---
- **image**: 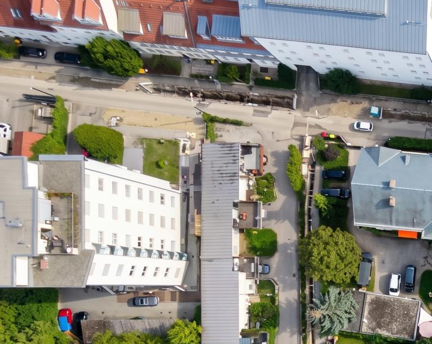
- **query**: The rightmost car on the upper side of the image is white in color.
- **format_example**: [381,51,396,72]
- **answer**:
[353,119,375,132]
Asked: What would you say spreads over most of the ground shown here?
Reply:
buildings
